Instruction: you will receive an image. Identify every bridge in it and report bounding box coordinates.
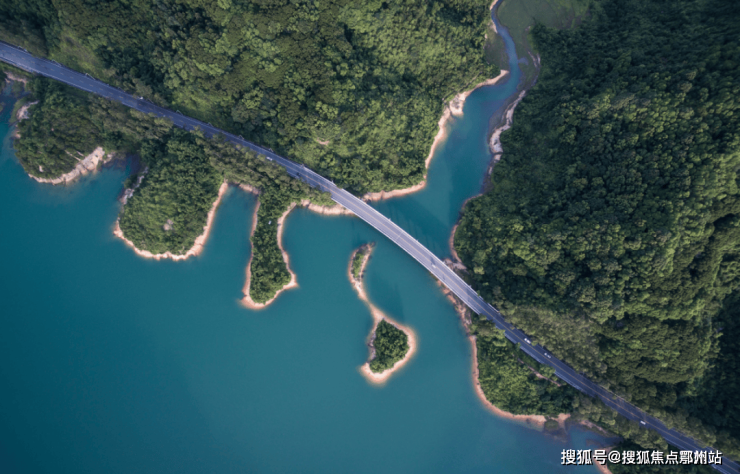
[307,169,508,319]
